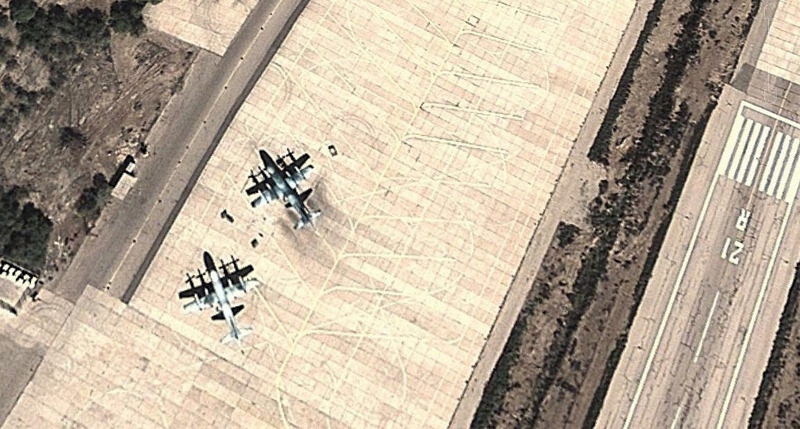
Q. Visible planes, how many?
2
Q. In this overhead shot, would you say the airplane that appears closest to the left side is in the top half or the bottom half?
bottom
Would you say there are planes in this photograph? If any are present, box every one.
[250,161,318,228]
[183,266,260,341]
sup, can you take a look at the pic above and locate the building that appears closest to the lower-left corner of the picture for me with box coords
[0,262,36,306]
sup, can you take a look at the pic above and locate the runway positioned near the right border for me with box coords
[594,70,800,429]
